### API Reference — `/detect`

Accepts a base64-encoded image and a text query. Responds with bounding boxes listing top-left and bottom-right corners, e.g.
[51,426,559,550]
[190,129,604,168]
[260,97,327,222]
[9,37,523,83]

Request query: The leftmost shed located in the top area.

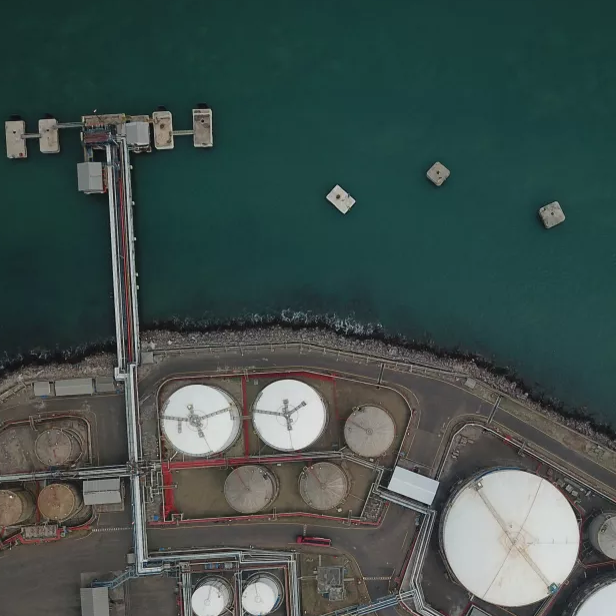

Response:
[77,162,106,194]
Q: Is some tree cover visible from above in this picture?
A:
No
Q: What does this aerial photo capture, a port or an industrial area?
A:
industrial area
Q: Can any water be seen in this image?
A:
Yes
